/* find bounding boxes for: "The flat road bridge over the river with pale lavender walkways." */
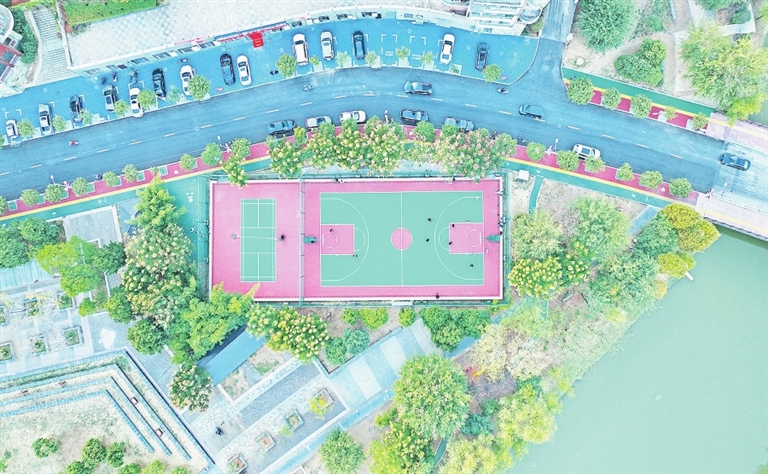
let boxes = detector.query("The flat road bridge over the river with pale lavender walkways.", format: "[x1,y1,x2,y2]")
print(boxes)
[685,112,768,240]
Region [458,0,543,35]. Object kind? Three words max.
building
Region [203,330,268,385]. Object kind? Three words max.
shed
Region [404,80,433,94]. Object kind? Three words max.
car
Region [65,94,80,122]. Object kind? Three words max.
car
